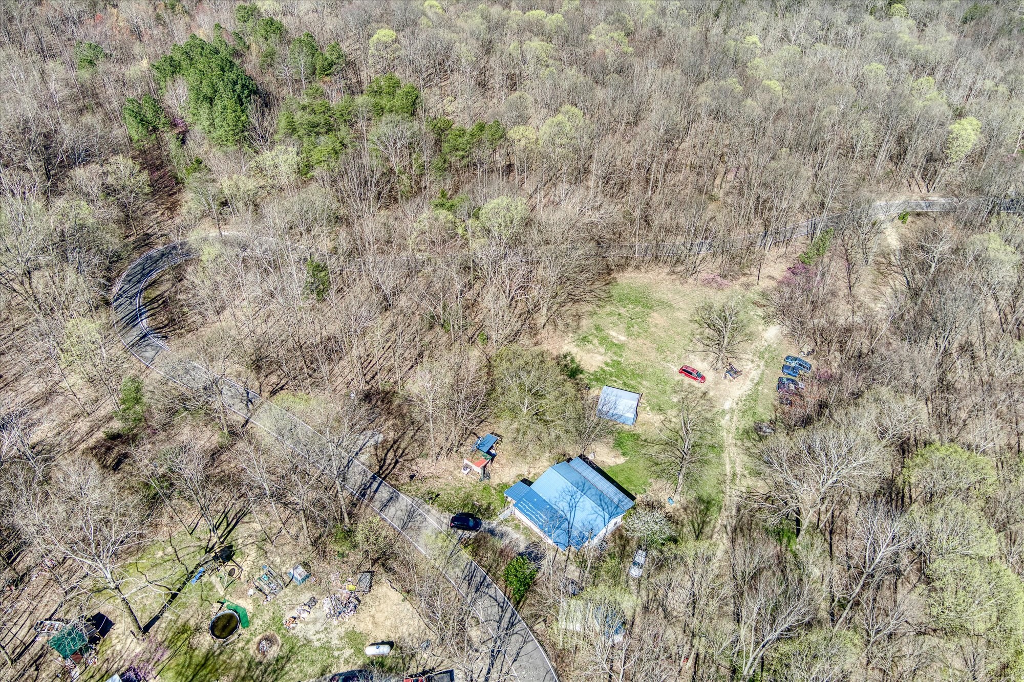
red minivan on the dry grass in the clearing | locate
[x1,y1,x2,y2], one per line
[678,363,707,384]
